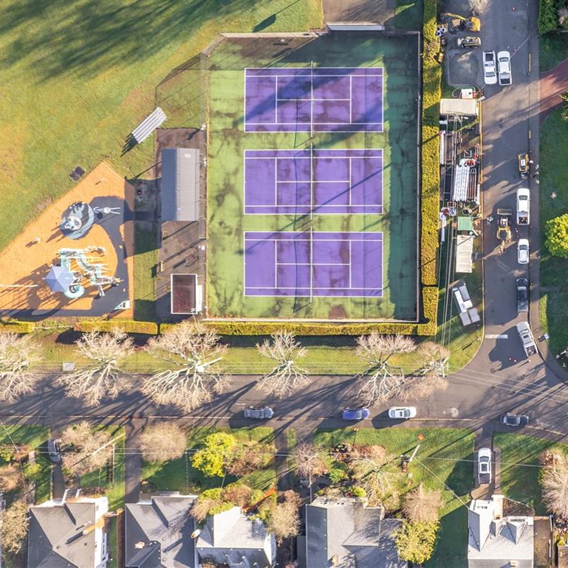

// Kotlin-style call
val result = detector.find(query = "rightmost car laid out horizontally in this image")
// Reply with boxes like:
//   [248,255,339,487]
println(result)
[501,413,529,427]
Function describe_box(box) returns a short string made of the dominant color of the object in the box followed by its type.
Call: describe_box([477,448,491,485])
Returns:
white vehicle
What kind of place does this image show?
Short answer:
residential area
